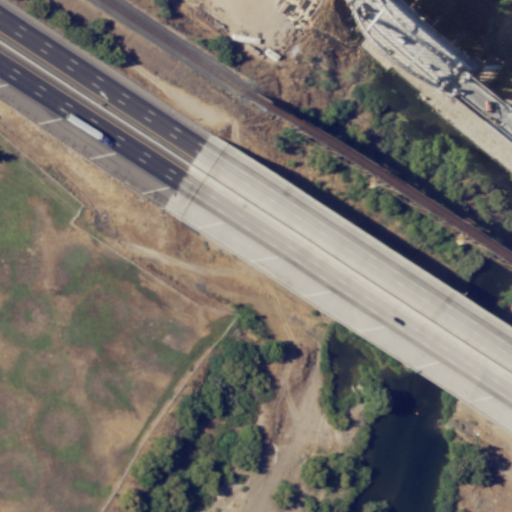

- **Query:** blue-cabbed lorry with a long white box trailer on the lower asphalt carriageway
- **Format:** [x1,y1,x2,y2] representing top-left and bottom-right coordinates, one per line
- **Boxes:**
[66,114,110,146]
